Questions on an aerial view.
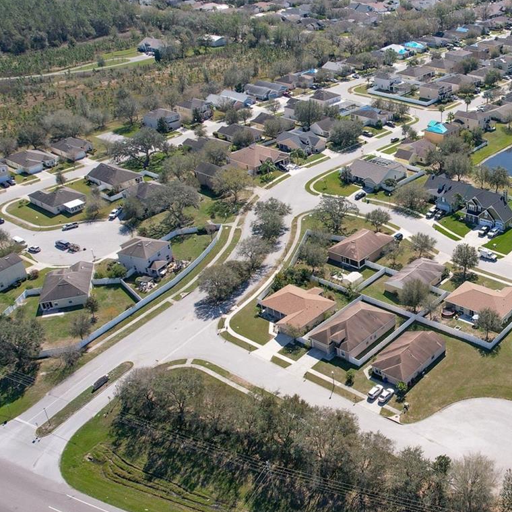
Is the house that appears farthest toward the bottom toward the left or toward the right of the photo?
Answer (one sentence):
You can find the house that appears farthest toward the bottom on the right side of the picture.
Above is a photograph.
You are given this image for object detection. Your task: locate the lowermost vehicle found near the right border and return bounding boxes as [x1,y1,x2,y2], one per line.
[479,245,497,258]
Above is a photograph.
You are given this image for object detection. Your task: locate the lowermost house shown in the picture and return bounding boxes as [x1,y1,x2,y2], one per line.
[370,332,448,389]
